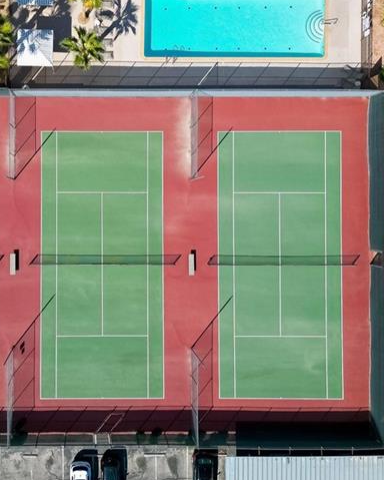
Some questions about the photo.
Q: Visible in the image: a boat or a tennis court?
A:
tennis court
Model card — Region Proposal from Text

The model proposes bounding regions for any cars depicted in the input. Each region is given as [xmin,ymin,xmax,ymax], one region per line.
[192,450,215,480]
[100,451,123,480]
[70,458,92,480]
